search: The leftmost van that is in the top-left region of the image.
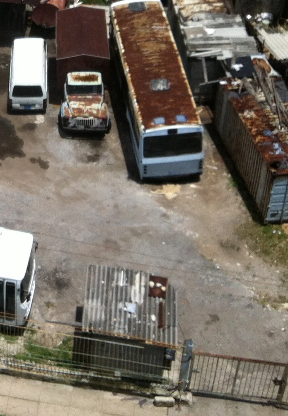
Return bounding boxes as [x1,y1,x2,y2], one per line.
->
[9,45,51,114]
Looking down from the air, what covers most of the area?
paved ground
